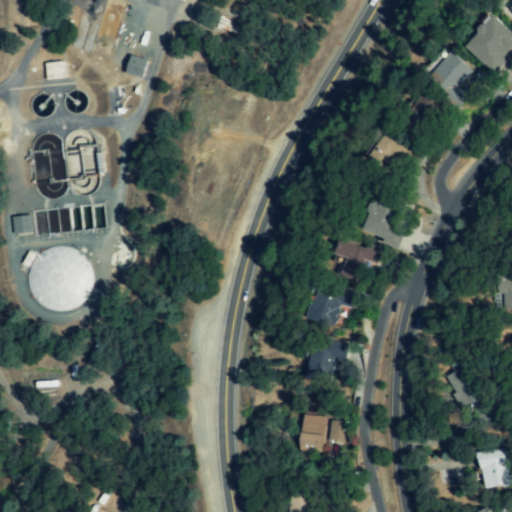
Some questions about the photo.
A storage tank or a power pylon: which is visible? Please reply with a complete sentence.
Visible in the photo is a storage tank.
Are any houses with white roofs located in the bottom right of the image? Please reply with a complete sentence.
Yes, you'll find a house with a white roof in the bottom right of the image.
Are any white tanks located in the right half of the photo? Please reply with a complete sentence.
No, there's no white tank to be seen in the right half of the photo.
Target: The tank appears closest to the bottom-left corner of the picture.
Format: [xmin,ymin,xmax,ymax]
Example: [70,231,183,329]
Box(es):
[28,245,96,312]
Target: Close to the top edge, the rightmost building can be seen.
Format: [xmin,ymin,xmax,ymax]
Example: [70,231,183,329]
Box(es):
[466,13,512,70]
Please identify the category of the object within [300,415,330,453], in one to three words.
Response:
house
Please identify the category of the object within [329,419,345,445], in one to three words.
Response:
building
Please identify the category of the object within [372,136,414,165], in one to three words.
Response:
house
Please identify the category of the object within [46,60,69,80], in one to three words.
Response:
building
